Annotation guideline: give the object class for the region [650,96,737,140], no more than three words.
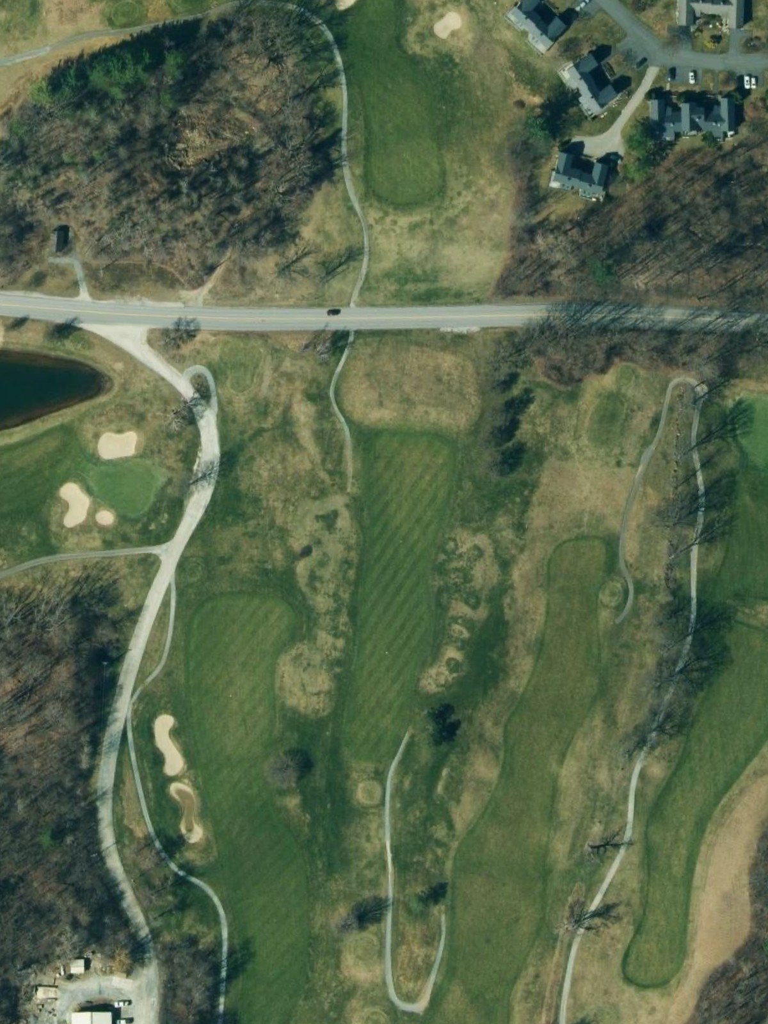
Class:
house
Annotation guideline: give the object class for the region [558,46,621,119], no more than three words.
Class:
house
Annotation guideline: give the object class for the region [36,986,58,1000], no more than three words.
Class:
shed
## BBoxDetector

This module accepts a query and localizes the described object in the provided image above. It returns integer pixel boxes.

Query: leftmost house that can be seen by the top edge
[505,0,570,56]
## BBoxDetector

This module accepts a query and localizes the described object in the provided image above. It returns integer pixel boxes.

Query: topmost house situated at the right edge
[677,0,746,28]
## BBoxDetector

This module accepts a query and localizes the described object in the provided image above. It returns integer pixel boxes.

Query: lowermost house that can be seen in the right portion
[550,150,610,202]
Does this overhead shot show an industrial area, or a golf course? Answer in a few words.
golf course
